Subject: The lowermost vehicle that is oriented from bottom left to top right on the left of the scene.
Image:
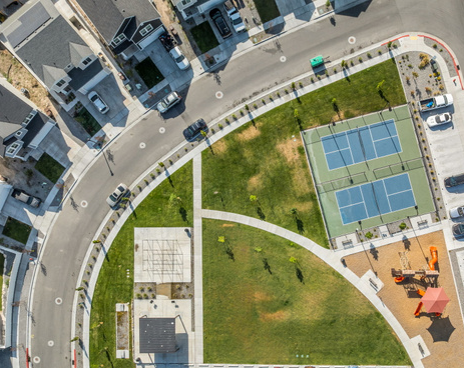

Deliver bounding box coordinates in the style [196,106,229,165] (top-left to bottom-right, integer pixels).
[106,182,129,208]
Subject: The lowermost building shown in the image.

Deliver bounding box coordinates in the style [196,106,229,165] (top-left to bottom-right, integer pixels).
[138,317,177,353]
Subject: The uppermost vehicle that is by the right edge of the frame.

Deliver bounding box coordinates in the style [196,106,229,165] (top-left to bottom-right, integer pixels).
[418,94,453,112]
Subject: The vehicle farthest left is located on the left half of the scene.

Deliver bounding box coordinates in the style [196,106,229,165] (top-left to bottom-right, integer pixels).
[9,186,43,207]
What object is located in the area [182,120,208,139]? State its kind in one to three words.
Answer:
car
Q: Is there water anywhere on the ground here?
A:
No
